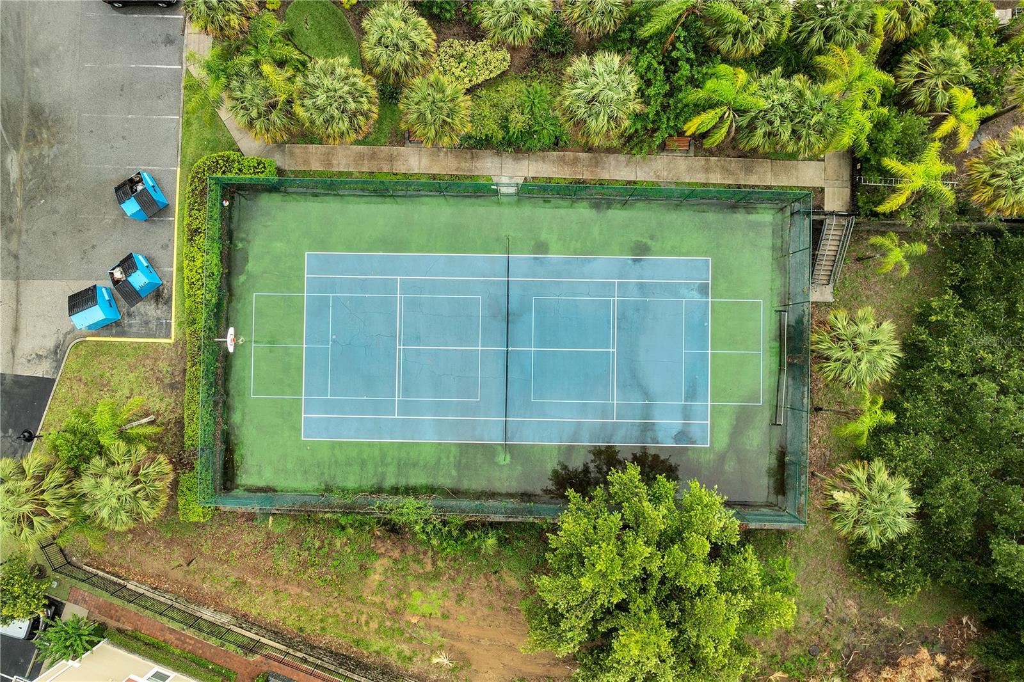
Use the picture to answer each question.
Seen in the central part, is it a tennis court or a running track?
tennis court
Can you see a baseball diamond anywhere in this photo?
No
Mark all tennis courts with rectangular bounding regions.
[220,186,802,530]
